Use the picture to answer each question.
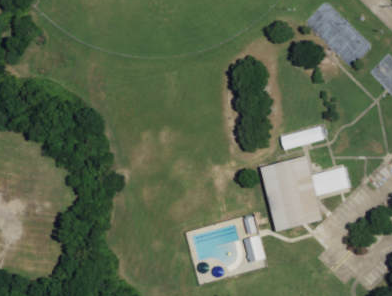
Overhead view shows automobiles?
No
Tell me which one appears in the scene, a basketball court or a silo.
basketball court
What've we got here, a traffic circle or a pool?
pool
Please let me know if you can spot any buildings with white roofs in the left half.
No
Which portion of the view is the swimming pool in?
bottom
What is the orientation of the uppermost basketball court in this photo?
at an angle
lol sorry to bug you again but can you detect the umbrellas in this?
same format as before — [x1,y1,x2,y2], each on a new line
[197,263,208,274]
[212,266,223,278]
